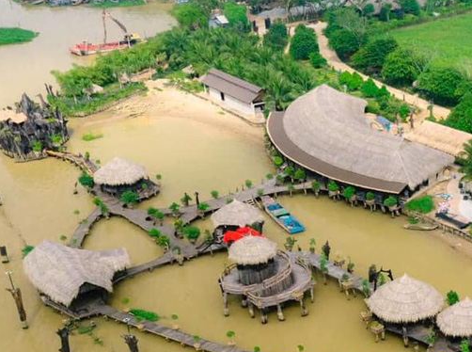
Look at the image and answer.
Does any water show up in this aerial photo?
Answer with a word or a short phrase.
Yes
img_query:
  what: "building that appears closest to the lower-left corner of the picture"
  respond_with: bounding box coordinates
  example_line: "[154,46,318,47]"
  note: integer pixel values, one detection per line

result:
[22,248,132,322]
